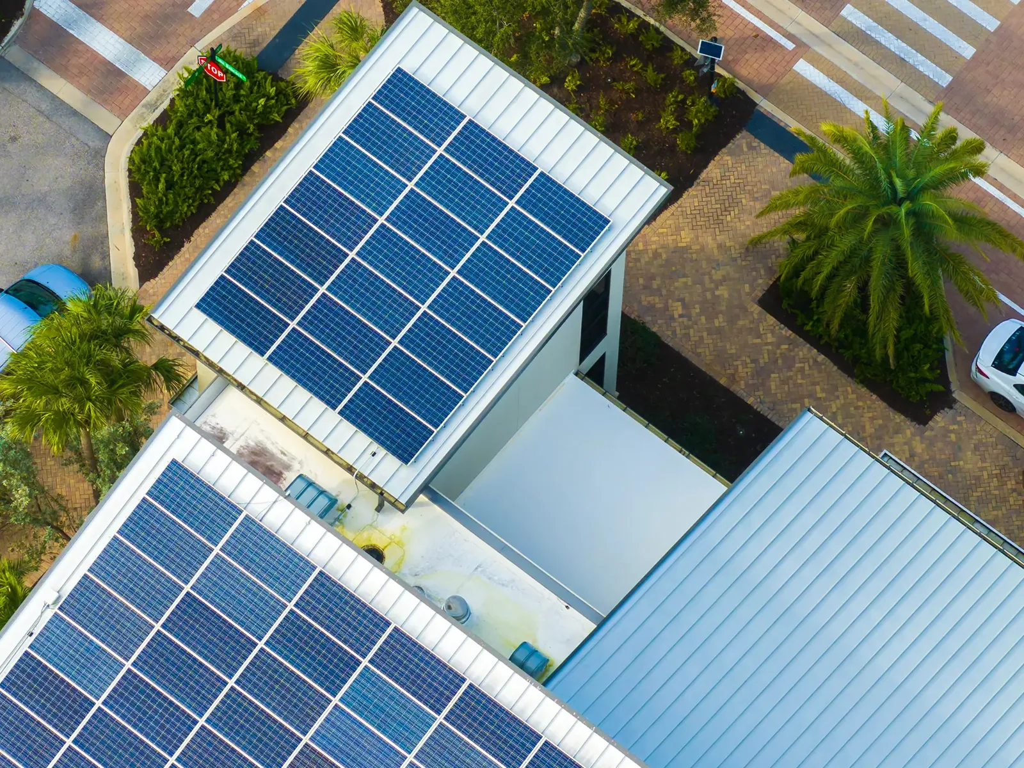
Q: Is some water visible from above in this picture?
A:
No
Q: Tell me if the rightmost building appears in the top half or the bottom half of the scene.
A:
bottom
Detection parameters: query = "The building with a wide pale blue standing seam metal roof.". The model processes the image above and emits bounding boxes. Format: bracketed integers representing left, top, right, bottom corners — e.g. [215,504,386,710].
[543,405,1024,768]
